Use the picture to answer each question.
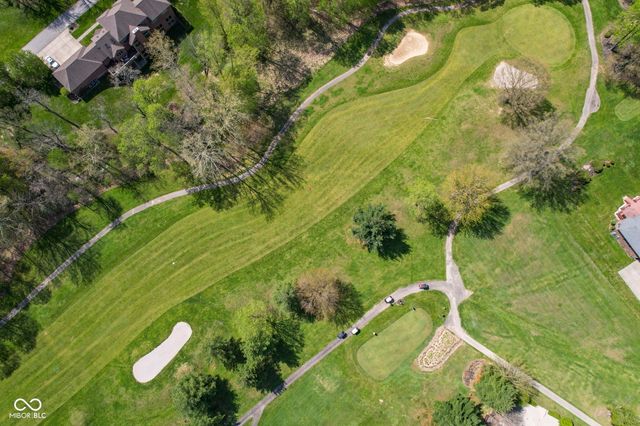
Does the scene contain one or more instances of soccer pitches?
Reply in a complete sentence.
No, there appears to be no soccer pitch in this shot.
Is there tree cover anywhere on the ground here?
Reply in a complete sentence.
Yes, some tree cover is visible.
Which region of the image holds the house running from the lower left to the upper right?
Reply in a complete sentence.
The house running from the lower left to the upper right is in the top left part of the image.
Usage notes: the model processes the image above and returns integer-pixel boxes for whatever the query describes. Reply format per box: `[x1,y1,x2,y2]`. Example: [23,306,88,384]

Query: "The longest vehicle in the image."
[42,54,59,69]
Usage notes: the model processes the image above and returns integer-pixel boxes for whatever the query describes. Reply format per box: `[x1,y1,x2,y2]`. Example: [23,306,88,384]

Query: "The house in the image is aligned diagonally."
[54,0,179,92]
